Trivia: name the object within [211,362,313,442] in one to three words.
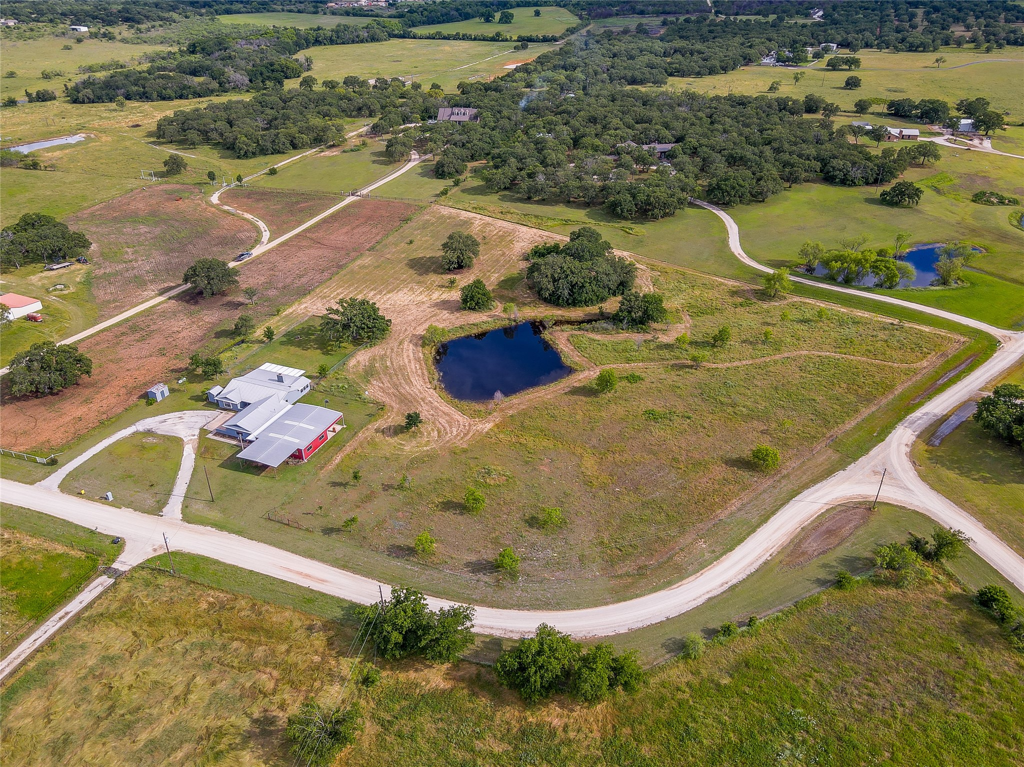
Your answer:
house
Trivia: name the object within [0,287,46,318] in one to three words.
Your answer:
barn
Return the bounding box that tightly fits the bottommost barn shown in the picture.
[235,403,344,479]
